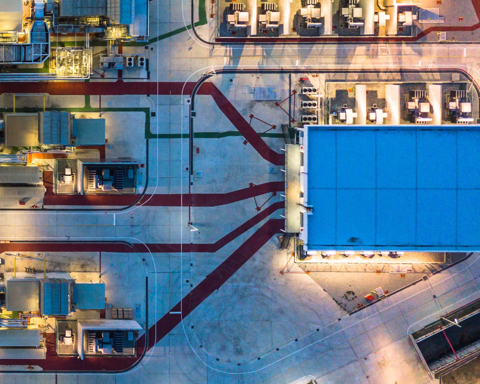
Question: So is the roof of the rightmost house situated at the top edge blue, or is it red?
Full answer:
The color of the roof of the rightmost house situated at the top edge is blue.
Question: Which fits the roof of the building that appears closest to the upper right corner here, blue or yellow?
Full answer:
In this view, the roof of the building that appears closest to the upper right corner is blue.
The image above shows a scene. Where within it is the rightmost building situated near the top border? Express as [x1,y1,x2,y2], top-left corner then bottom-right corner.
[101,0,150,36]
